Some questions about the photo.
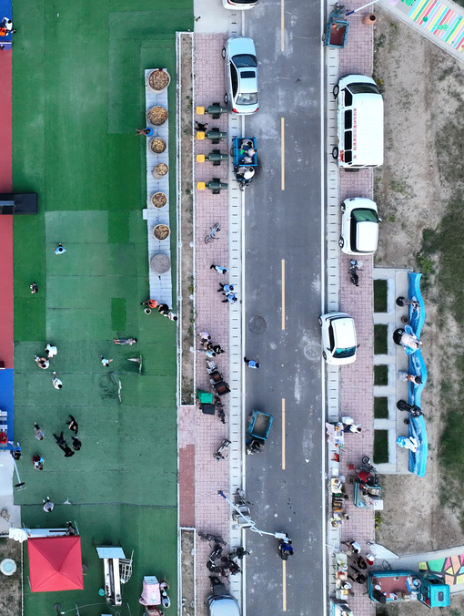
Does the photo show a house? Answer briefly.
No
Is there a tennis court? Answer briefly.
No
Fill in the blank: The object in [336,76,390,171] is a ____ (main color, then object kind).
white vehicle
